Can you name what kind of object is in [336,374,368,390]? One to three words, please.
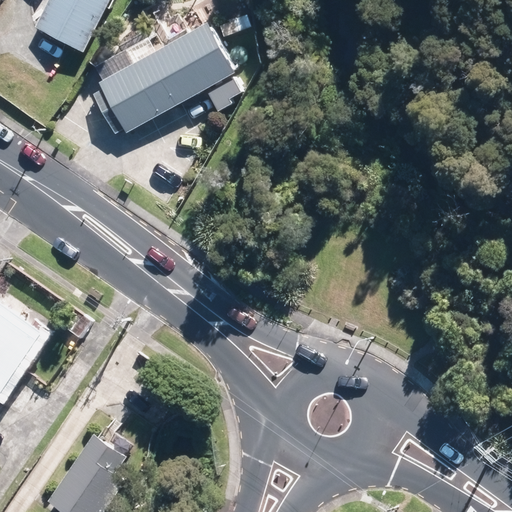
car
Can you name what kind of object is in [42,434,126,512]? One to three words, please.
house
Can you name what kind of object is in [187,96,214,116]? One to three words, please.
vehicle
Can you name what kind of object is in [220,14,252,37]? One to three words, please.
shed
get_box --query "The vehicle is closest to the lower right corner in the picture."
[438,442,466,466]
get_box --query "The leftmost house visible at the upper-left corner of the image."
[36,0,112,52]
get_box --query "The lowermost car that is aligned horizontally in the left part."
[176,135,204,150]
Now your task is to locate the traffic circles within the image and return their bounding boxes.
[308,392,352,437]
